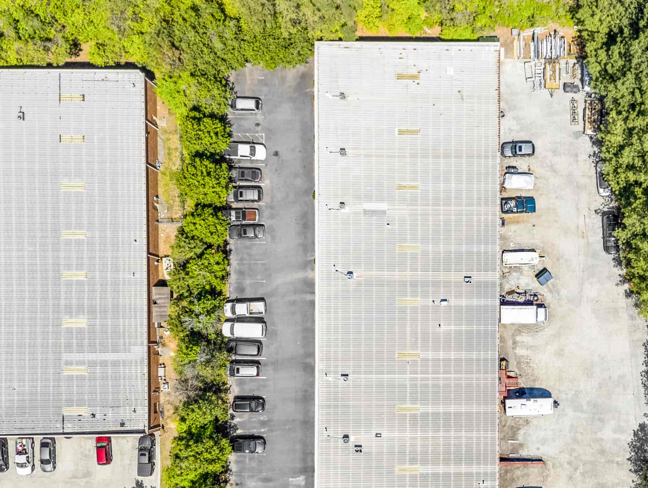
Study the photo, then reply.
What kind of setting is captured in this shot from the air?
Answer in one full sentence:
What you see here is an industrial area.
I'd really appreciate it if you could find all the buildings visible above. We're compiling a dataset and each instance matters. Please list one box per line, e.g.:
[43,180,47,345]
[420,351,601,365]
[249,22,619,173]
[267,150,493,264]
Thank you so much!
[315,40,502,488]
[0,66,161,435]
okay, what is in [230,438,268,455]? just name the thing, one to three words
vehicle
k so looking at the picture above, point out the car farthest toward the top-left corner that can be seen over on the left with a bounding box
[227,96,263,114]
